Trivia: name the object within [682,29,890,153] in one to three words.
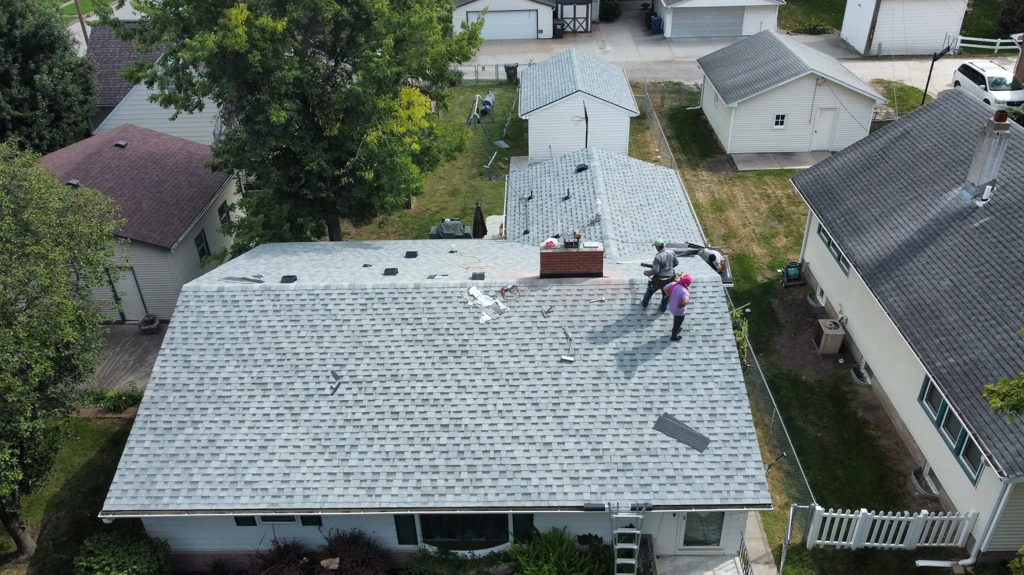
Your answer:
building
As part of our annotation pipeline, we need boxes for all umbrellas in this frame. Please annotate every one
[469,187,487,236]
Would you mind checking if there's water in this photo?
No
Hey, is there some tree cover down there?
Yes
